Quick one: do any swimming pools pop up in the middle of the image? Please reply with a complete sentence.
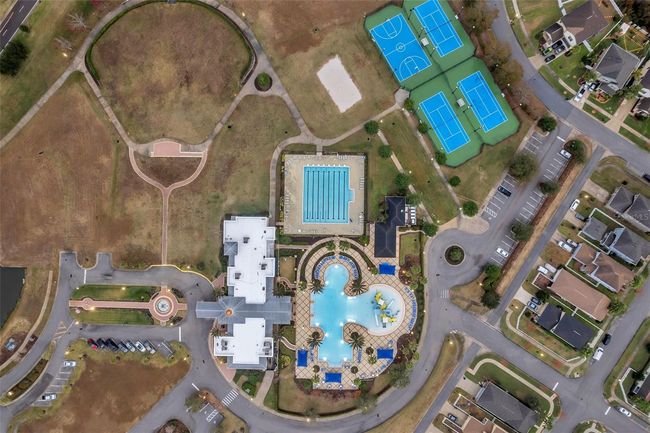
Yes, there is a swimming pool in the middle of the image.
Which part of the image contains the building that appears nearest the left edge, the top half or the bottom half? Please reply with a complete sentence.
The building that appears nearest the left edge sits in the bottom half of the picture.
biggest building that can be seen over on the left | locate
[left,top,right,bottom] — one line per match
[195,216,291,370]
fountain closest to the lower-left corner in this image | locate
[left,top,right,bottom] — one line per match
[154,298,171,315]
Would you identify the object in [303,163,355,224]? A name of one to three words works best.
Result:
swimming pool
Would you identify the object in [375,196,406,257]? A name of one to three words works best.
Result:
building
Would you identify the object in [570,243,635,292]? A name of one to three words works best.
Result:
house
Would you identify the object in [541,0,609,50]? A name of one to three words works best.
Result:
house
